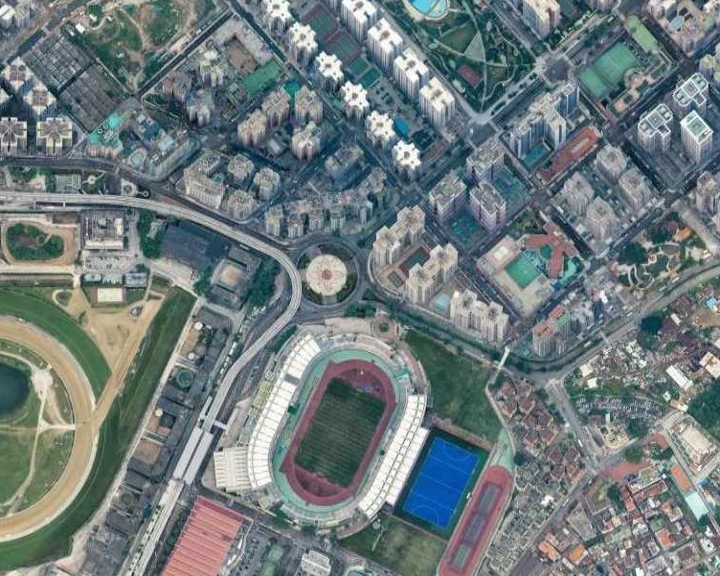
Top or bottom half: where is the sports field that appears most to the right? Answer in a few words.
top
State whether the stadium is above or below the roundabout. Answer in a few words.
below it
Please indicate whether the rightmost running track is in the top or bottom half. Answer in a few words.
bottom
